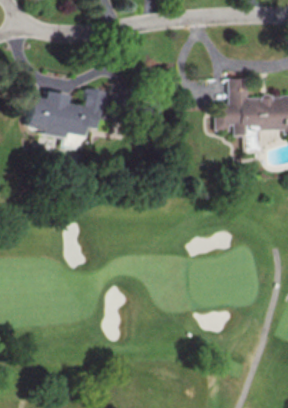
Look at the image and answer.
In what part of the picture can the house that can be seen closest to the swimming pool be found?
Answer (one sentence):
The house that can be seen closest to the swimming pool appears toward the top right of the photo.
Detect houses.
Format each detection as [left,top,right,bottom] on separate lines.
[213,78,288,138]
[28,88,106,149]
